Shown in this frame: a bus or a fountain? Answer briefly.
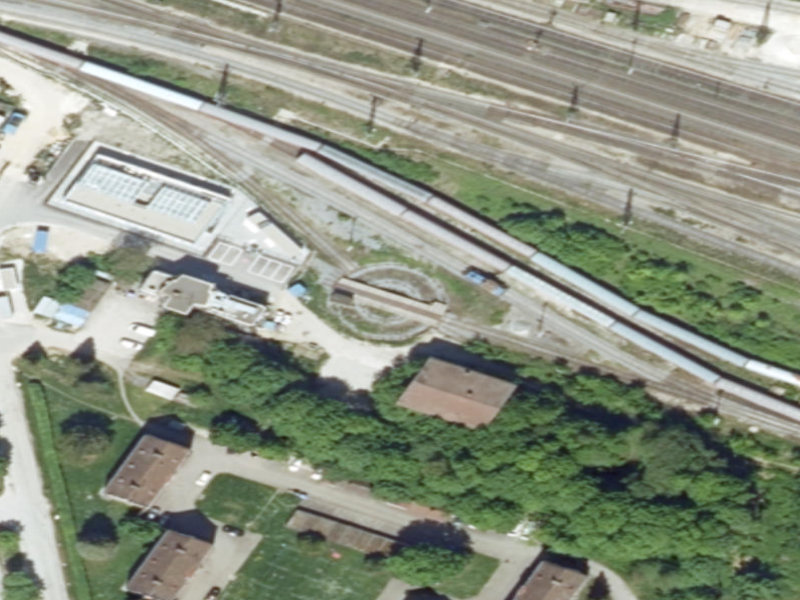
bus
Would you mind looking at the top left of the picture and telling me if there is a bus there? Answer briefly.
Yes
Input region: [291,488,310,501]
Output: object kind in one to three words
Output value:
vehicle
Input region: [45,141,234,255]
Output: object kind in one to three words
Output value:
building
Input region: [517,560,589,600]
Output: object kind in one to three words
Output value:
house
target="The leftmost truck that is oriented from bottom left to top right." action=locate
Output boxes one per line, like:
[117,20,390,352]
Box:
[2,109,23,135]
